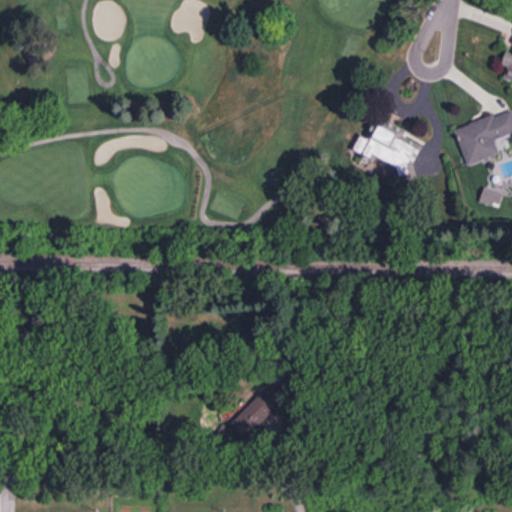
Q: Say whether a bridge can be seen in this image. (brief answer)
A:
No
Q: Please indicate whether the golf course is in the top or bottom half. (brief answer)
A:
top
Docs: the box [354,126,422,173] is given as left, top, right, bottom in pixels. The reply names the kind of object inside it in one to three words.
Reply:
house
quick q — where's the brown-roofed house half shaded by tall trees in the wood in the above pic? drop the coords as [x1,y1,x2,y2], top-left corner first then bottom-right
[234,394,274,434]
